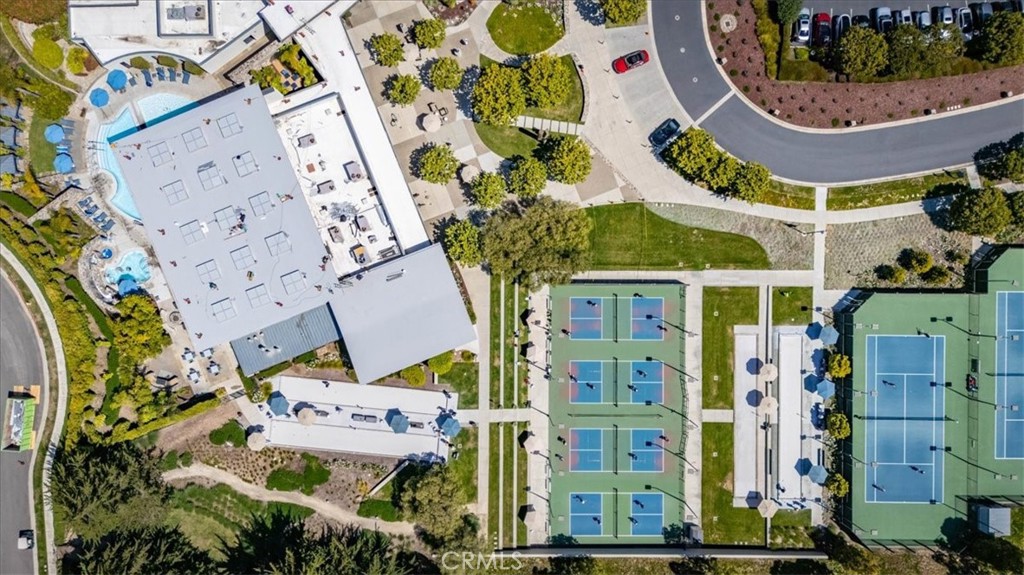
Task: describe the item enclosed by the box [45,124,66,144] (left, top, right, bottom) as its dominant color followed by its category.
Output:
blue umbrella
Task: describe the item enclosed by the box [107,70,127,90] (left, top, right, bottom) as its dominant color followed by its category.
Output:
blue umbrella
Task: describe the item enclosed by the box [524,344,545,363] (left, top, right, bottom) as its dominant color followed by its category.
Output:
white umbrella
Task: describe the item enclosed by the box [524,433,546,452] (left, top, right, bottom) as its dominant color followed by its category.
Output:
white umbrella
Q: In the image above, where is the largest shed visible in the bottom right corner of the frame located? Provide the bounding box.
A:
[972,506,1010,542]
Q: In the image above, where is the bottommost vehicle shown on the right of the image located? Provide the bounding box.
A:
[647,117,682,145]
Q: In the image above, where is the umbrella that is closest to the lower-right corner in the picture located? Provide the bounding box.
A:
[807,464,828,483]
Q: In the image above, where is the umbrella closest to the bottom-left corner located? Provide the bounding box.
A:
[247,431,267,450]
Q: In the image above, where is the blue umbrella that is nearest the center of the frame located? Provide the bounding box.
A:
[441,417,462,436]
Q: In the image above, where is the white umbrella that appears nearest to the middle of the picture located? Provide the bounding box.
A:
[525,307,546,327]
